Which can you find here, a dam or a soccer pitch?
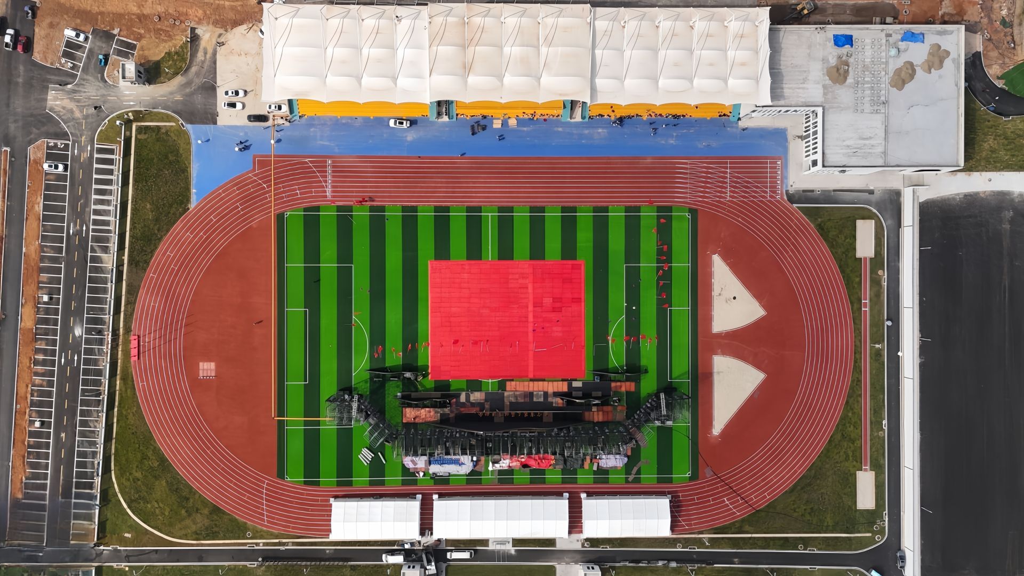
soccer pitch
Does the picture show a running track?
Yes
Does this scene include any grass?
Yes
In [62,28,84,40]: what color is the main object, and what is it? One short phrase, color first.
white vehicle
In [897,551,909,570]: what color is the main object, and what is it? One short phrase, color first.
gray vehicle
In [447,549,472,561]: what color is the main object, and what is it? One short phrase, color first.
white vehicle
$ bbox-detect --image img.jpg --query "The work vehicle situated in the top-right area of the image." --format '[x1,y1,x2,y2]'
[776,0,813,25]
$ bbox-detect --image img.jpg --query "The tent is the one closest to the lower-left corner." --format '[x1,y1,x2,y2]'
[330,496,423,540]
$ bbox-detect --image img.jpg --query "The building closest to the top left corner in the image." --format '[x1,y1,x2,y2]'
[119,62,146,87]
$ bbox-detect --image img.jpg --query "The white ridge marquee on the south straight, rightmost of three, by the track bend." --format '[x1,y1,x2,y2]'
[580,495,672,538]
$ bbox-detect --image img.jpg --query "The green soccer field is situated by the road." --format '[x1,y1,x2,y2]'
[277,205,696,486]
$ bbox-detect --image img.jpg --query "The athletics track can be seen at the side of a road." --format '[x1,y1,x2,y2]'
[134,156,854,534]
